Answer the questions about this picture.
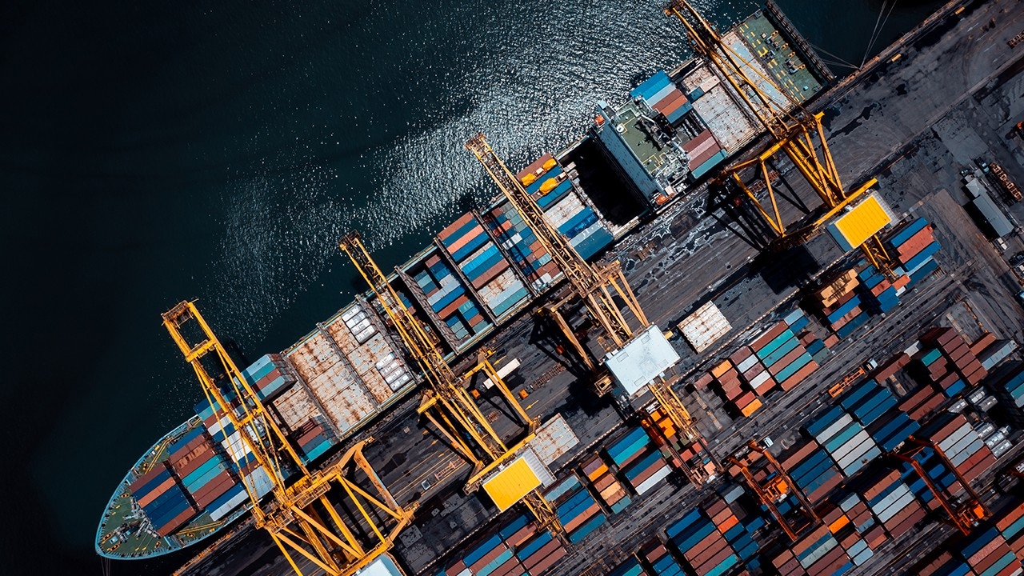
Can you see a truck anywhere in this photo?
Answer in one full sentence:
Yes, the picture does show a truck.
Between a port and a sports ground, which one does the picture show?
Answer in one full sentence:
This looks like a port.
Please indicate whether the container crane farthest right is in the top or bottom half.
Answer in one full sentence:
Seen from above, the container crane farthest right lies in the bottom half of the view.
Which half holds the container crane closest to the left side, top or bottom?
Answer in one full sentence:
You can find the container crane closest to the left side in the bottom half.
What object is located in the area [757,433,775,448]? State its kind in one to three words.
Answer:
vehicle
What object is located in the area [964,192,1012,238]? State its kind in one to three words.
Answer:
shed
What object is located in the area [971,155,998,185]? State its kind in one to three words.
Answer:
truck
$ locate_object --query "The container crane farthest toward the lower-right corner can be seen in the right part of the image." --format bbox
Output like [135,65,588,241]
[882,439,996,539]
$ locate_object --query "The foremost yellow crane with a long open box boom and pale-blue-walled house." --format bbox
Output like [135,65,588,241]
[158,290,429,576]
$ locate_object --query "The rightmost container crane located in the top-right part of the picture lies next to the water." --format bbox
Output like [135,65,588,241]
[663,0,914,302]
